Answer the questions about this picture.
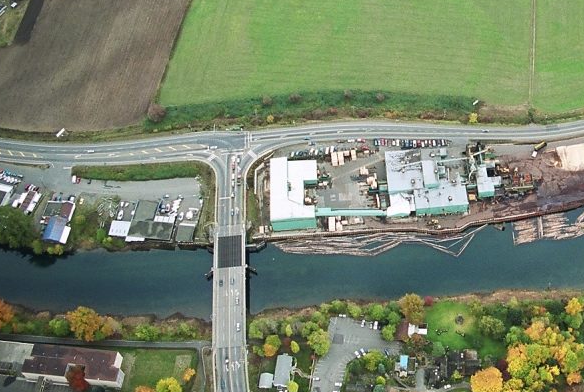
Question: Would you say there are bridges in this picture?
Yes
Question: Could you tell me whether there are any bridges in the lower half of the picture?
Yes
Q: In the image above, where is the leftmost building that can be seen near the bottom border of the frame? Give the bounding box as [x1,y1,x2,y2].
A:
[21,344,118,386]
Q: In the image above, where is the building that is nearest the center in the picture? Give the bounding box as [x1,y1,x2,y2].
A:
[270,157,318,230]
